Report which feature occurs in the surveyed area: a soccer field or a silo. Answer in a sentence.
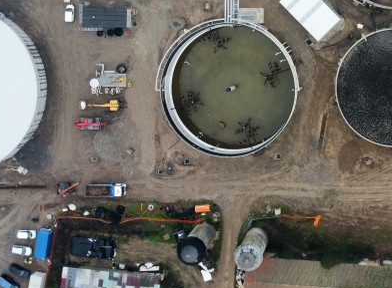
I can see a silo in this picture.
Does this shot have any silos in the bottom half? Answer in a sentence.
Yes, a silo appears in the bottom half.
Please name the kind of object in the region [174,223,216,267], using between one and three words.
silo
